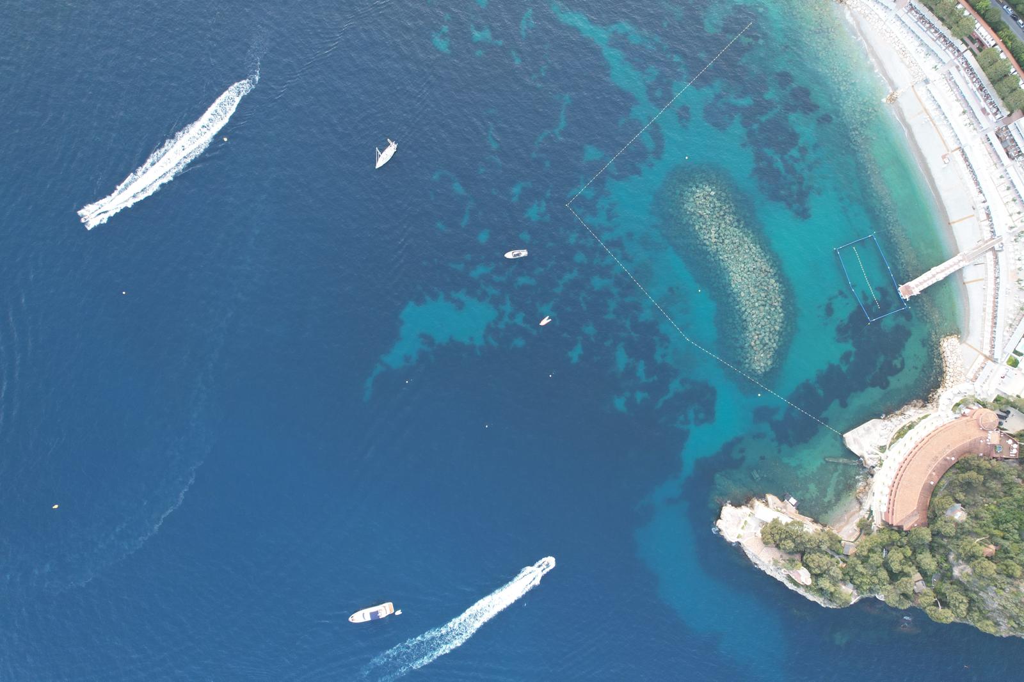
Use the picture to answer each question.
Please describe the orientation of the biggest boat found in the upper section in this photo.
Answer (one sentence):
I'd say the biggest boat found in the upper section is aligned at an angle in the picture.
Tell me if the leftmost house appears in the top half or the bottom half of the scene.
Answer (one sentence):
The leftmost house is in the bottom half of the image.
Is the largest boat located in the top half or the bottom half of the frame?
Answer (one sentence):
Seen from above, the largest boat lies in the bottom half of the view.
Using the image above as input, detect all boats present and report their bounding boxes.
[542,561,552,569]
[539,315,551,325]
[346,602,396,624]
[503,249,528,258]
[77,214,90,222]
[374,138,395,168]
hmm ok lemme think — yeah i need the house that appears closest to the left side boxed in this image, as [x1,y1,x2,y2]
[750,499,800,525]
